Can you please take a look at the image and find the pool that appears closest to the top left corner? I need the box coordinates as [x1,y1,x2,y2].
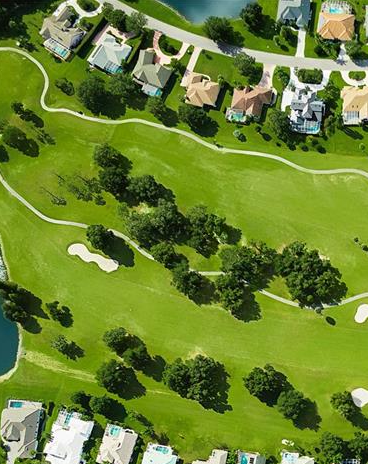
[43,39,71,59]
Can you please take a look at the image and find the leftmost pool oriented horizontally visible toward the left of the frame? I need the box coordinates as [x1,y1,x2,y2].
[7,398,42,410]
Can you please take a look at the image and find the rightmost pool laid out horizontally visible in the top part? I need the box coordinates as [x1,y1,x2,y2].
[321,0,352,15]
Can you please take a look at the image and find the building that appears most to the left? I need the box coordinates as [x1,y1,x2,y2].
[2,408,46,458]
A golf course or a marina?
golf course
